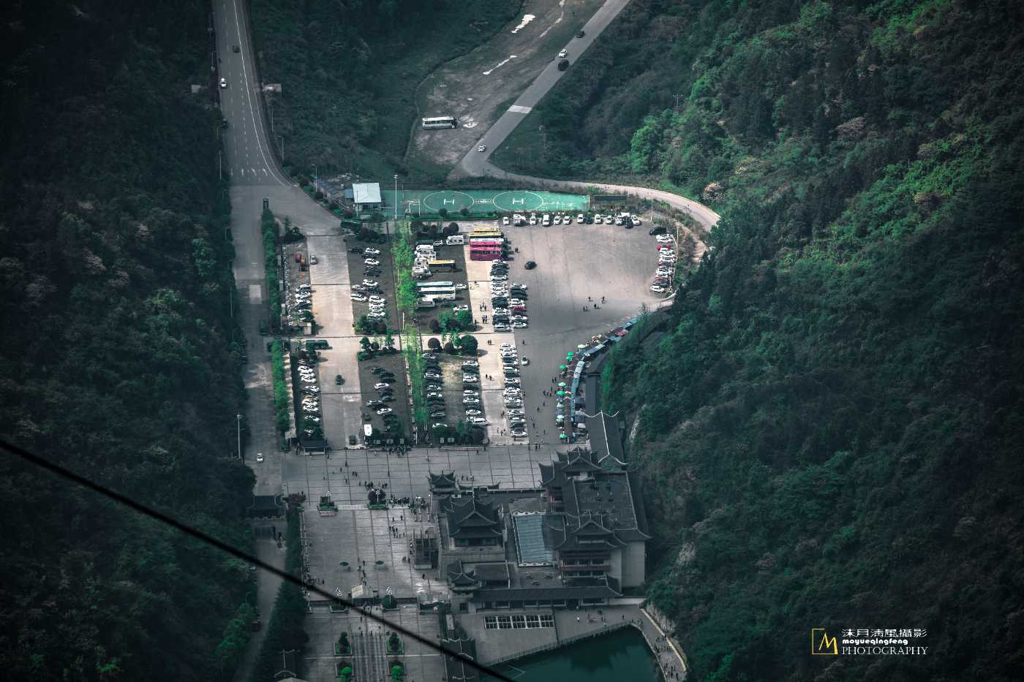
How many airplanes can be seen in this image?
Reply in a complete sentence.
The count of airplanes is 0.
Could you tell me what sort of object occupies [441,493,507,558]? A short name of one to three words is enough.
building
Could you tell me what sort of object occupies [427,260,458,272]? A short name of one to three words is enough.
vehicle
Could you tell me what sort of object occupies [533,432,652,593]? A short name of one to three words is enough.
building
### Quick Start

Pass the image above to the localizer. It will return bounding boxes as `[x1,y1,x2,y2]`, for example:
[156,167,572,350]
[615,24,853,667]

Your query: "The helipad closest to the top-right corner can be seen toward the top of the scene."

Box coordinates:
[483,189,590,216]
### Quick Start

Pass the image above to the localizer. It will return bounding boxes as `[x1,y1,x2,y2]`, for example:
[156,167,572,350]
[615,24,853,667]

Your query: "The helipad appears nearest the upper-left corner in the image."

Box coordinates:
[383,189,488,217]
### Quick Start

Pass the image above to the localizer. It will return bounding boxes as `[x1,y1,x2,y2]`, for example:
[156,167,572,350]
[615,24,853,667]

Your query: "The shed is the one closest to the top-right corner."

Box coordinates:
[595,194,625,210]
